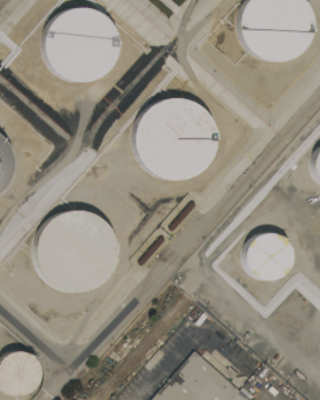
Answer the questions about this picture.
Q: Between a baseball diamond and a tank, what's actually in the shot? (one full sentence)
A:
This aerial view contains a tank.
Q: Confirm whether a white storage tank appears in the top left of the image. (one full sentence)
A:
Yes, in the top left of the image there is a white storage tank.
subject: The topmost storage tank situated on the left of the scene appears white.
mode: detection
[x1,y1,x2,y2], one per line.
[40,7,120,85]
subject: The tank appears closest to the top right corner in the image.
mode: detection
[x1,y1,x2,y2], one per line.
[234,0,316,67]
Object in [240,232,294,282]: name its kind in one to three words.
storage tank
